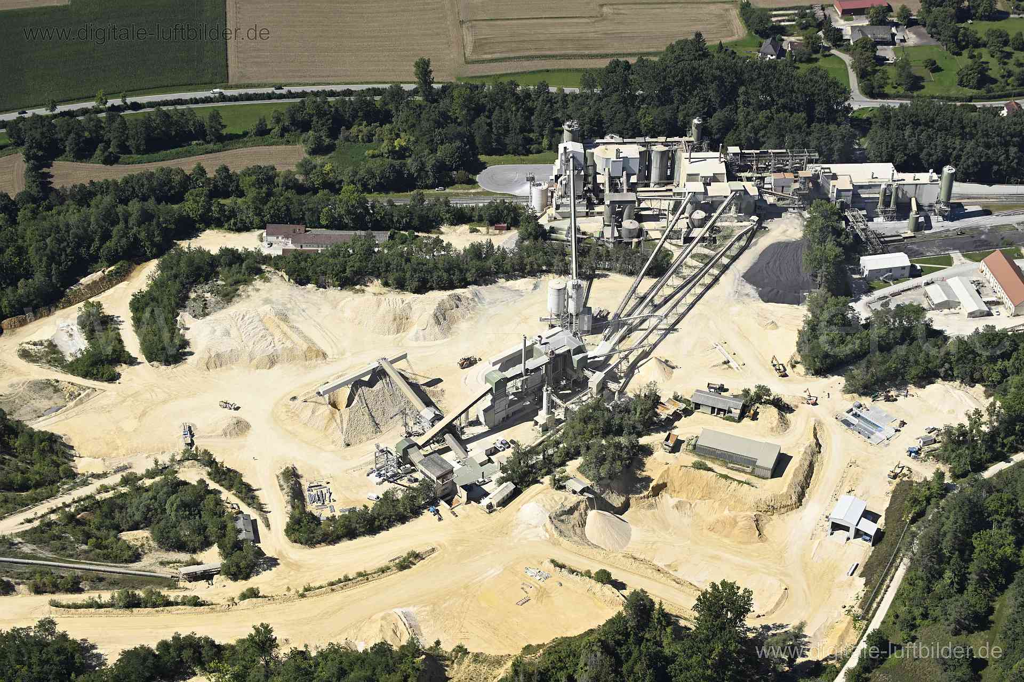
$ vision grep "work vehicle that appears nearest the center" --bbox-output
[457,354,481,368]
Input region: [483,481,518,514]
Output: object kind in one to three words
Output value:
shed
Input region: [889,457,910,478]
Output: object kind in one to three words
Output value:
work vehicle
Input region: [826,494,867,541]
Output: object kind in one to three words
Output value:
building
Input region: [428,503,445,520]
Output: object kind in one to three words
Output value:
vehicle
